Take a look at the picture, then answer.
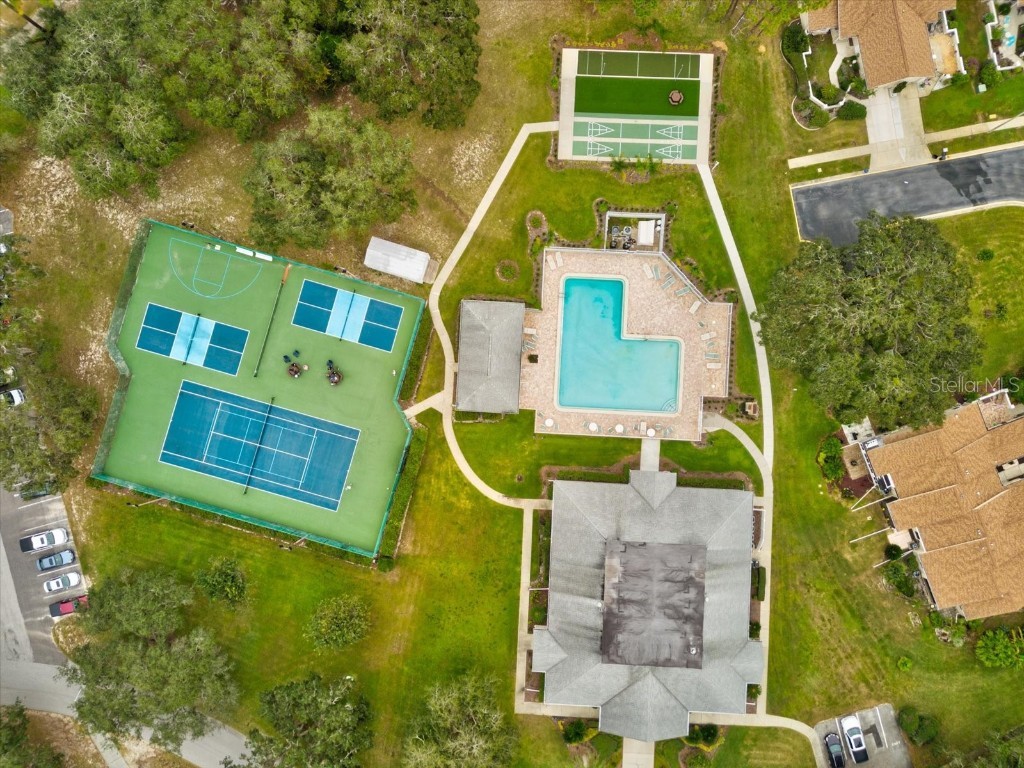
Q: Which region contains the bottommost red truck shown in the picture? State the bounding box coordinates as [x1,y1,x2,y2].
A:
[48,592,93,618]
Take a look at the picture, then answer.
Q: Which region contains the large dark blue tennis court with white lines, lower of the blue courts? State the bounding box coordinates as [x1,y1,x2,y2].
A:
[159,380,361,512]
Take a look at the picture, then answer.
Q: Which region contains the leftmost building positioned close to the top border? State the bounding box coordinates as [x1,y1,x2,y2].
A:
[799,0,956,94]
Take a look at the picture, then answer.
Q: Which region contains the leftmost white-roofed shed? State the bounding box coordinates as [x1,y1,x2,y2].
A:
[363,235,429,285]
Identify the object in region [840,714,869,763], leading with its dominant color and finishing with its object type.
white truck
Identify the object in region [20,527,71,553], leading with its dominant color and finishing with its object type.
white truck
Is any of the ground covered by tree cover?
Yes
